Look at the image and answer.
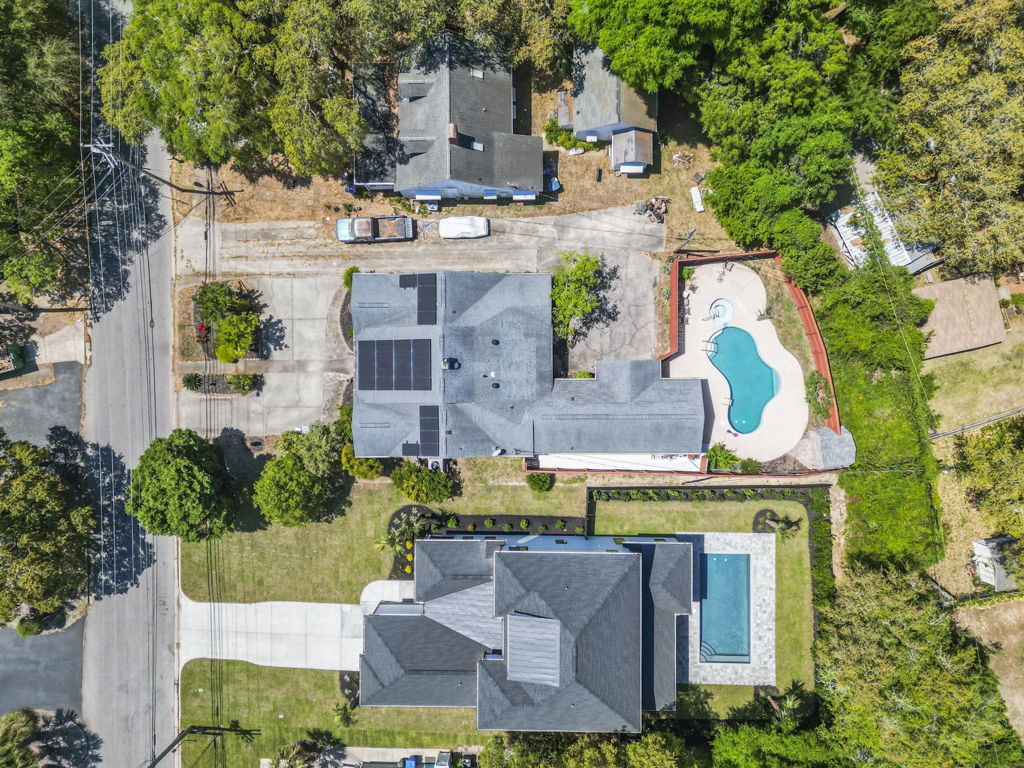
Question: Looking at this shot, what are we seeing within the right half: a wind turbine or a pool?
pool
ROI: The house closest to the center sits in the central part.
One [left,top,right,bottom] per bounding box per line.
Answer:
[351,271,704,459]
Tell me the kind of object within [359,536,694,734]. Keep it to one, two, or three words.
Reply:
house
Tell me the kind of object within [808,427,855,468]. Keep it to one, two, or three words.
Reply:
shed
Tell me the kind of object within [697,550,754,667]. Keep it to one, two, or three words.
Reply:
swimming pool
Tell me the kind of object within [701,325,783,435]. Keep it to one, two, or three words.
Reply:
swimming pool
